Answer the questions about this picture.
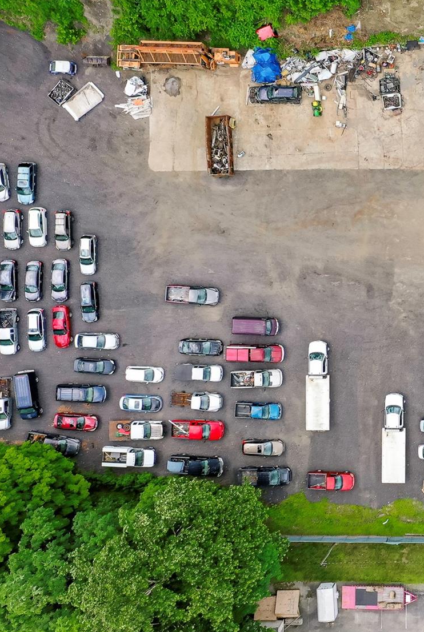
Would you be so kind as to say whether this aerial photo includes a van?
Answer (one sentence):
Yes, a van can be made out from above.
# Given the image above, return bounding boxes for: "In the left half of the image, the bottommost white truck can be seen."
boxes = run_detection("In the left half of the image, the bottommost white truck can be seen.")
[98,445,157,470]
